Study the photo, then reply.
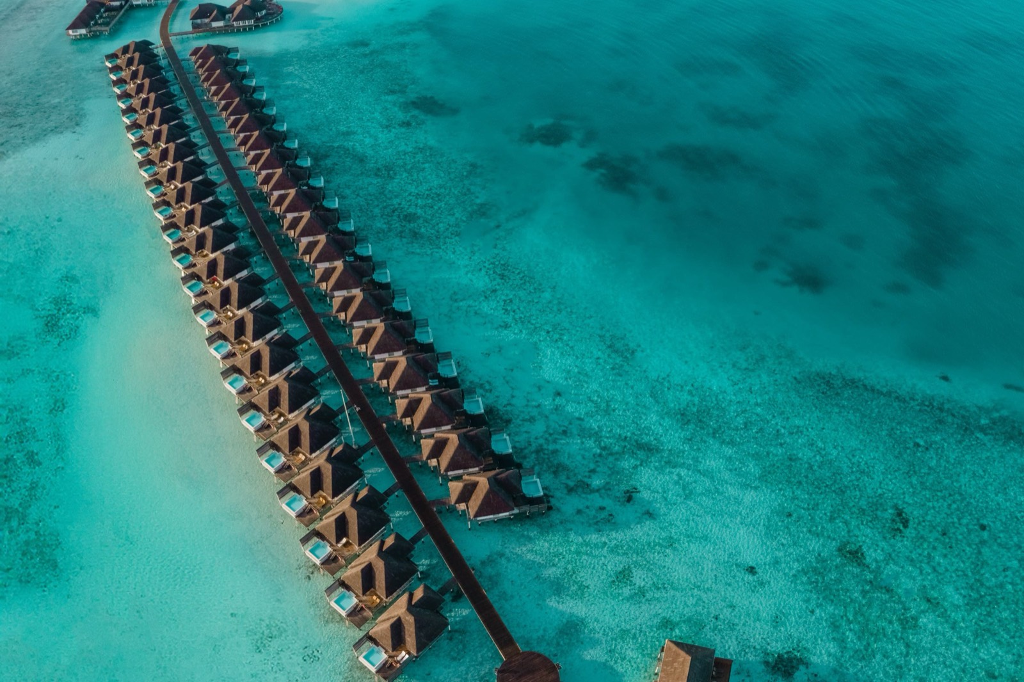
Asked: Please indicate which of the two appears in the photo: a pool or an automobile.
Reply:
pool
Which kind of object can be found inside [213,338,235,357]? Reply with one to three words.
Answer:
swimming pool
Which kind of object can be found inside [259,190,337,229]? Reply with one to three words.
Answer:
house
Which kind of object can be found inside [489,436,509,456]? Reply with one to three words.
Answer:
swimming pool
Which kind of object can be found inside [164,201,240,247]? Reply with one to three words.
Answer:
house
